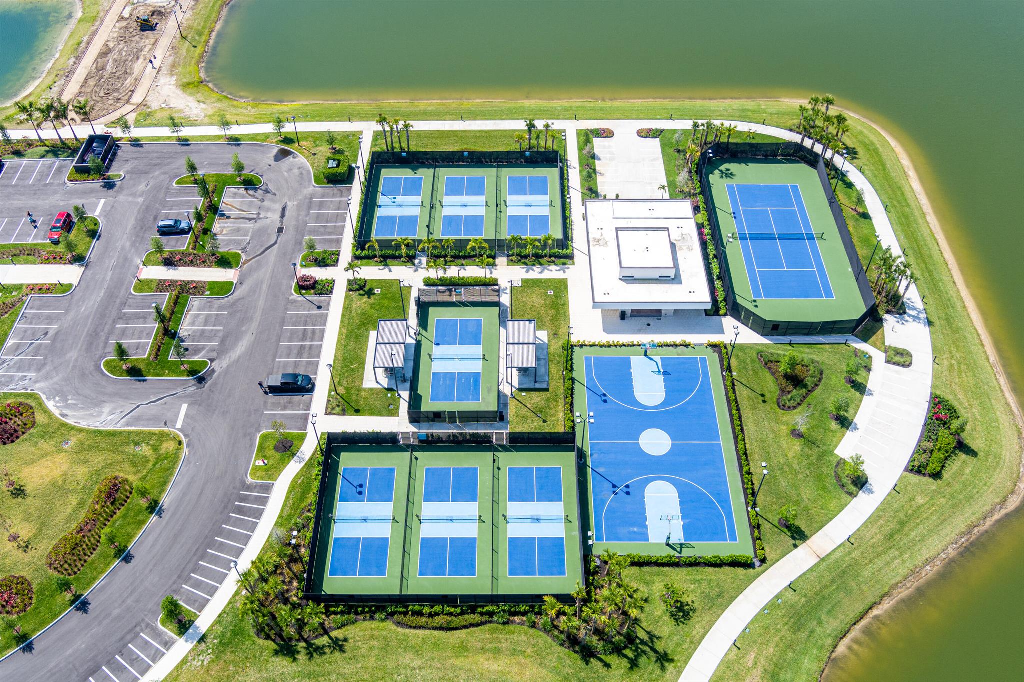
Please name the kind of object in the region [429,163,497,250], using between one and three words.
sports court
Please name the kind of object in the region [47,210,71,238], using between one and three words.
car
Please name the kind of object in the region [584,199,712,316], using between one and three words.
building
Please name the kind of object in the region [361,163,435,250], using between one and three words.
sports court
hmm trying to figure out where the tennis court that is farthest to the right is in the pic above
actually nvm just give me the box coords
[703,157,866,335]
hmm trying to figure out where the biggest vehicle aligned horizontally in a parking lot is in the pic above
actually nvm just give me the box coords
[264,374,315,394]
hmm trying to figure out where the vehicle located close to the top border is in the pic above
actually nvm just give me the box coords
[136,18,162,34]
